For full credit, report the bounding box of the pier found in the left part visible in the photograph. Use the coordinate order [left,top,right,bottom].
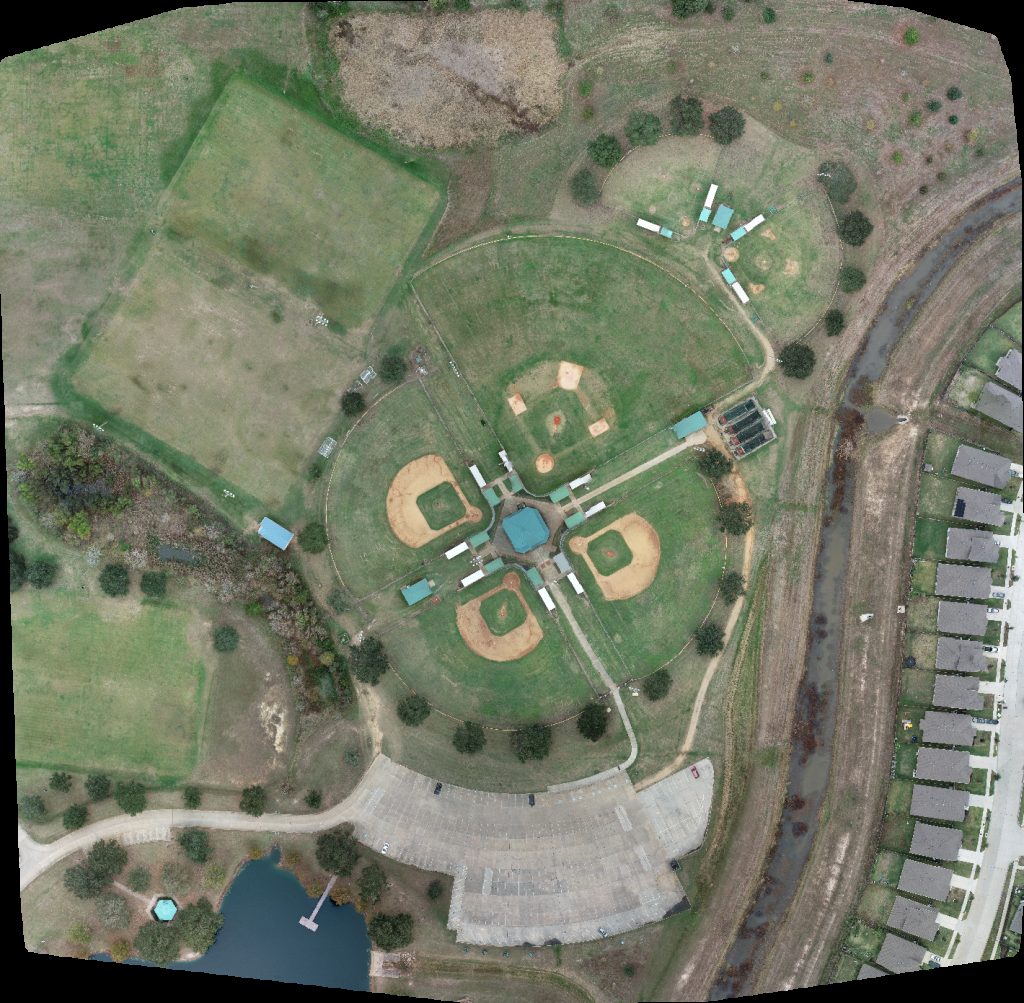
[301,876,335,933]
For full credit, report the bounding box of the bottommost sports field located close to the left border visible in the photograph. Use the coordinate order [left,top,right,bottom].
[0,594,206,778]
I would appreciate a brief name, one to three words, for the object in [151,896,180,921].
gazebo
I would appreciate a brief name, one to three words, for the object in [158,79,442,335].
sports field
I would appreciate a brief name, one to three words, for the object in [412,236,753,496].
baseball field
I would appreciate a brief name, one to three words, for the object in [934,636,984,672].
house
